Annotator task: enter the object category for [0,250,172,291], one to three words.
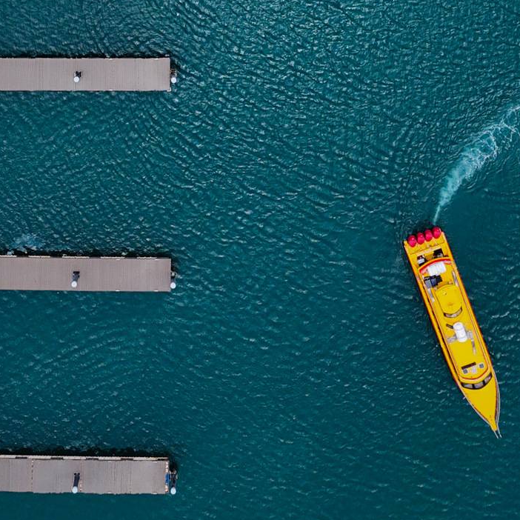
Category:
pier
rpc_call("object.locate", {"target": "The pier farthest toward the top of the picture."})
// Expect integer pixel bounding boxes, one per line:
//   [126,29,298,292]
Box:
[0,52,172,91]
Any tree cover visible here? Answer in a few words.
No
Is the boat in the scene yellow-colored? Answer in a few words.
Yes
